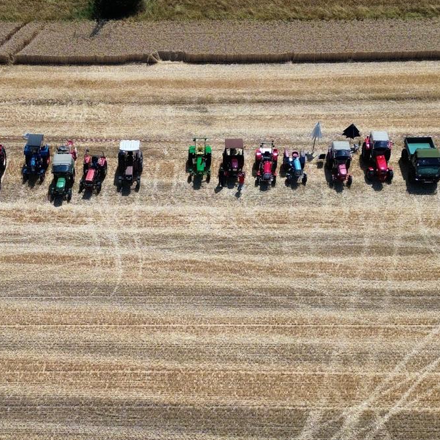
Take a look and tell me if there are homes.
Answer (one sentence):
No, no home is visible in the scene.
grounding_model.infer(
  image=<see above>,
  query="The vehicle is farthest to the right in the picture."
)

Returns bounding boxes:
[406,139,440,182]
